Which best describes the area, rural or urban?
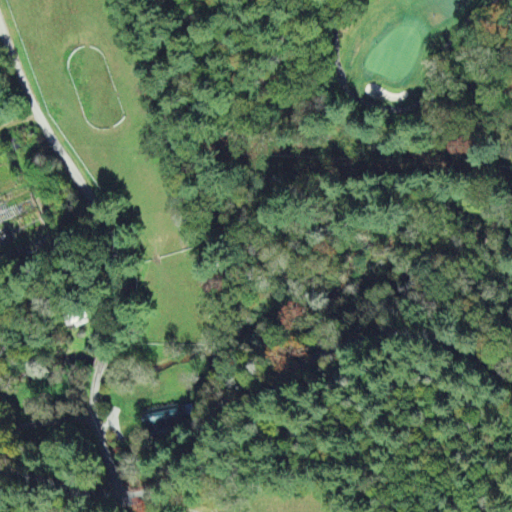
rural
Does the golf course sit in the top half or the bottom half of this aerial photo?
top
